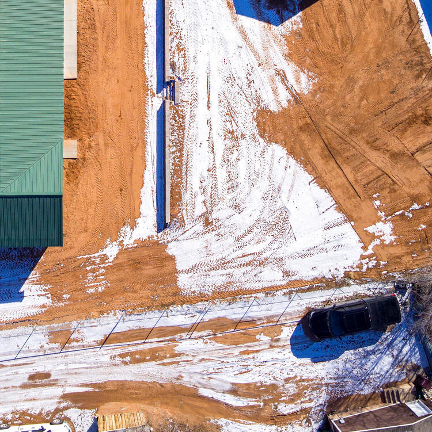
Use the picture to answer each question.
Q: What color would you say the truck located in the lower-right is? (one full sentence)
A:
In this view, the truck located in the lower-right is black.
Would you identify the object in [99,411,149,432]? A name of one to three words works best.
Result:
shed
